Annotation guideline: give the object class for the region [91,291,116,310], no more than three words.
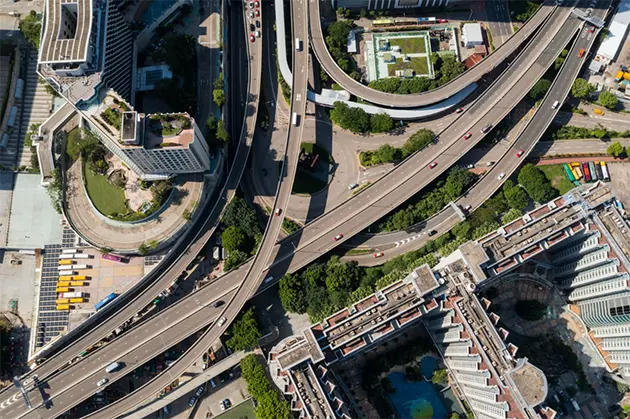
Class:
vehicle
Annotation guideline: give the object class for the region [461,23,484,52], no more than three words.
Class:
building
